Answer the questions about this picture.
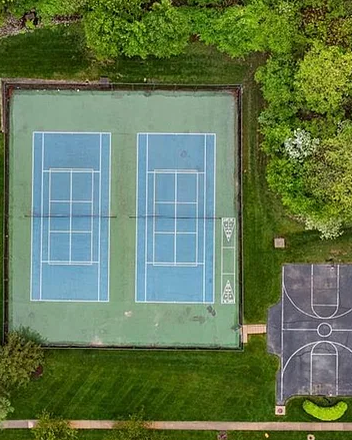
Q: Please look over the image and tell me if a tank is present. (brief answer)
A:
No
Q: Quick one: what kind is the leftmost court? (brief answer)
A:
tennis court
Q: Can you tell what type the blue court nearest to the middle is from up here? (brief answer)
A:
tennis court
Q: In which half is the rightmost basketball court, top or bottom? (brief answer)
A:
bottom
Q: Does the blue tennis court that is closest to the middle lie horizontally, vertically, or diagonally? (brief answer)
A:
vertically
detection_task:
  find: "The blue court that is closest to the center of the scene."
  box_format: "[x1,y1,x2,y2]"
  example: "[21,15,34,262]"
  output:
[136,134,222,303]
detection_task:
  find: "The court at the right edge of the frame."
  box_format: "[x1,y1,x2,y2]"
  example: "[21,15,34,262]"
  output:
[282,265,352,401]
